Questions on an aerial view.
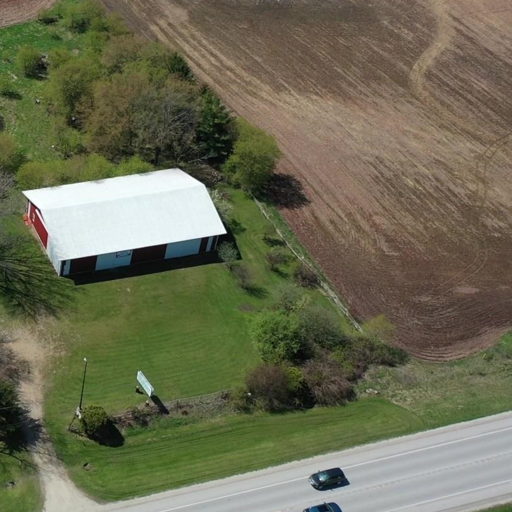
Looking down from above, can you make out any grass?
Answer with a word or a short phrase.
Yes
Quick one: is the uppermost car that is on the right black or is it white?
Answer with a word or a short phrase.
black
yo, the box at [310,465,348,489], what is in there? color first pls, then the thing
black car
